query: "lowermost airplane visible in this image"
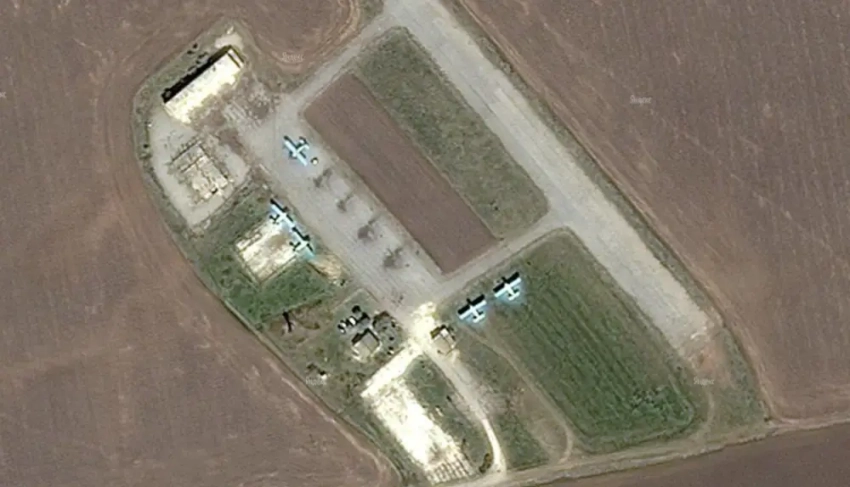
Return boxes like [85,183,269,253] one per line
[460,301,486,324]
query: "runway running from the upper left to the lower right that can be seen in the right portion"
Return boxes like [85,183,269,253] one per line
[387,0,713,358]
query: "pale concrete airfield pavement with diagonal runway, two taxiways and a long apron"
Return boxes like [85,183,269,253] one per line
[240,0,713,358]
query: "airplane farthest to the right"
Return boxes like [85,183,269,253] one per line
[495,280,522,303]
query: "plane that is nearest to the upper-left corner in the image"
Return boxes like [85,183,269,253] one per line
[286,140,310,165]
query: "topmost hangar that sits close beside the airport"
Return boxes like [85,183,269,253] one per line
[164,51,243,118]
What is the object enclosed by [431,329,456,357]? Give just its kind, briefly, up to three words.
house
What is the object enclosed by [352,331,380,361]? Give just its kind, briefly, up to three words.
house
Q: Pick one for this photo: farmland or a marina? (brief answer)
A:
farmland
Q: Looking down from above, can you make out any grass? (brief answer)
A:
Yes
